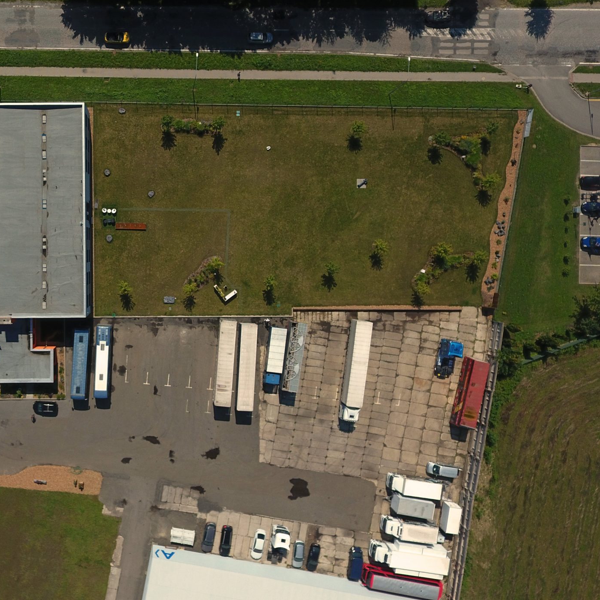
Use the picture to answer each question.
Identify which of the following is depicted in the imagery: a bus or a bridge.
bus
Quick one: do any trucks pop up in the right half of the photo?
Yes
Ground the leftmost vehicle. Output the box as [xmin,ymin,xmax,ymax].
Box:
[34,401,58,414]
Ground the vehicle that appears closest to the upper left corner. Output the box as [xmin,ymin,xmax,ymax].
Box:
[105,30,131,44]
